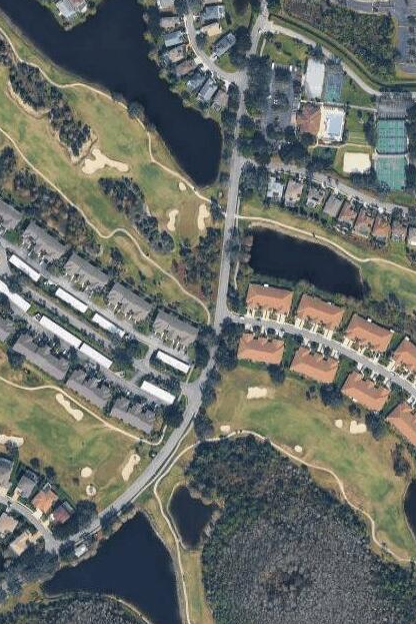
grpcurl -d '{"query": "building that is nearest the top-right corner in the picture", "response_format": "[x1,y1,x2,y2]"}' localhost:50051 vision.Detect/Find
[292,104,321,133]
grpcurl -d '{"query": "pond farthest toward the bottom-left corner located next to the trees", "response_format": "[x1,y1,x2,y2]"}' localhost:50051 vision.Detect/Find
[170,486,219,549]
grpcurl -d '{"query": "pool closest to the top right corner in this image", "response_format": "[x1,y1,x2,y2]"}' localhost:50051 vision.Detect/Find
[317,104,345,142]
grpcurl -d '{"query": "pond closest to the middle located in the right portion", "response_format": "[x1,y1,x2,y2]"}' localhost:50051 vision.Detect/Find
[248,229,364,297]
